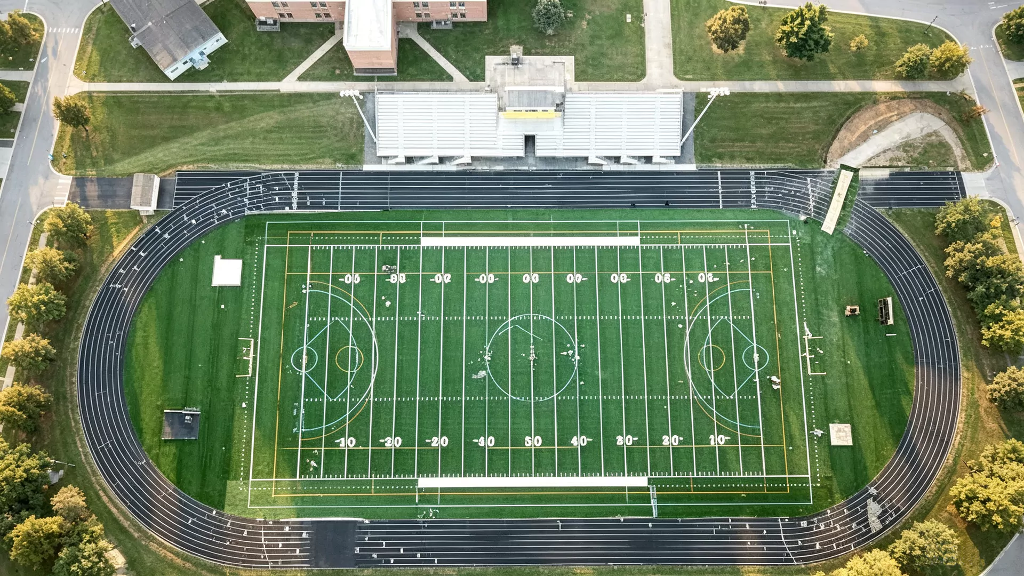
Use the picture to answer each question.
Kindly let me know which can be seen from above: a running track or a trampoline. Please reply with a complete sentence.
Of the two, only a running track appears.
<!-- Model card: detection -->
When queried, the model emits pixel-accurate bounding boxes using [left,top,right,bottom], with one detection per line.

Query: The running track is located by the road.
[75,171,959,567]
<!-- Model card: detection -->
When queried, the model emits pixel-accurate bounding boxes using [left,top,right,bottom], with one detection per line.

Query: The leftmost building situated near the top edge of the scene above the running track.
[105,0,228,80]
